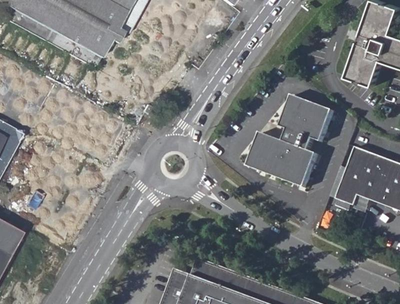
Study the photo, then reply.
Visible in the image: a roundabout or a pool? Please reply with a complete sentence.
There is a roundabout in the scene.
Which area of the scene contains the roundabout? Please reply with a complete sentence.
The roundabout is located in the center region of the scene.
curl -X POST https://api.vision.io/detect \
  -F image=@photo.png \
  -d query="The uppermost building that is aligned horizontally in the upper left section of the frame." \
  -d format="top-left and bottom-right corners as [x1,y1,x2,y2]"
[4,0,138,58]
